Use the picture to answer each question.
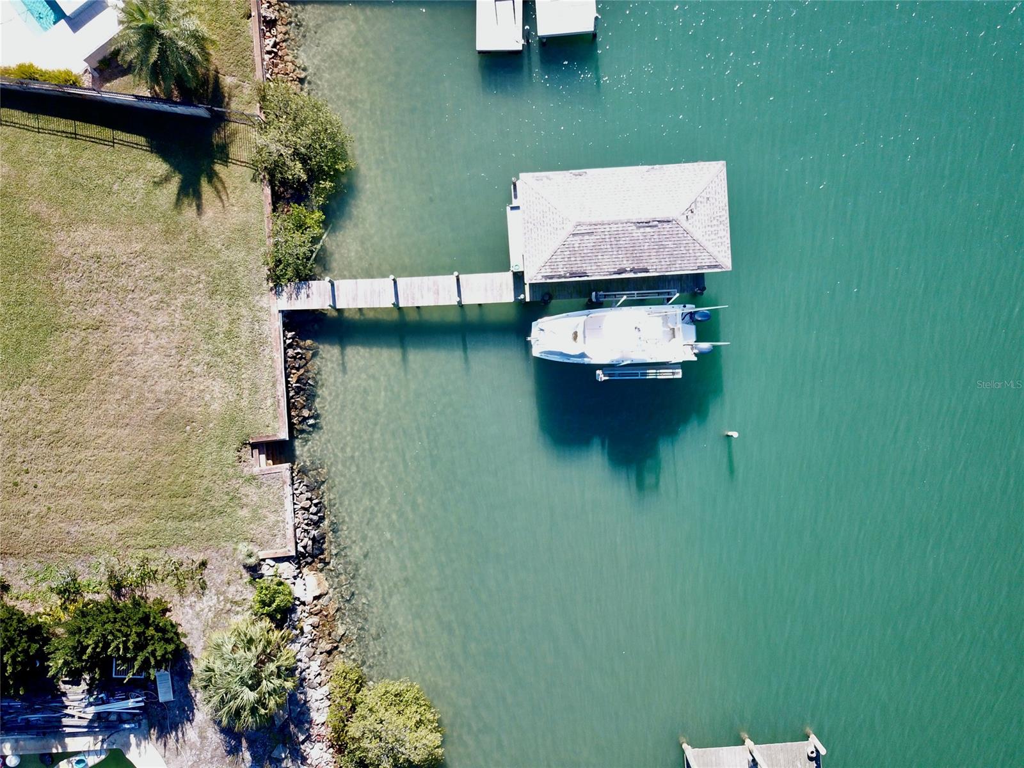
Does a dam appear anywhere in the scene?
No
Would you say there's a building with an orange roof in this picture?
No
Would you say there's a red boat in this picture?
No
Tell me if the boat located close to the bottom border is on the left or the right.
left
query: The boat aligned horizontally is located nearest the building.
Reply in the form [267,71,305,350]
[526,304,731,365]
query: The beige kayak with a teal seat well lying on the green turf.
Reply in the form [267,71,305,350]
[60,748,111,768]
